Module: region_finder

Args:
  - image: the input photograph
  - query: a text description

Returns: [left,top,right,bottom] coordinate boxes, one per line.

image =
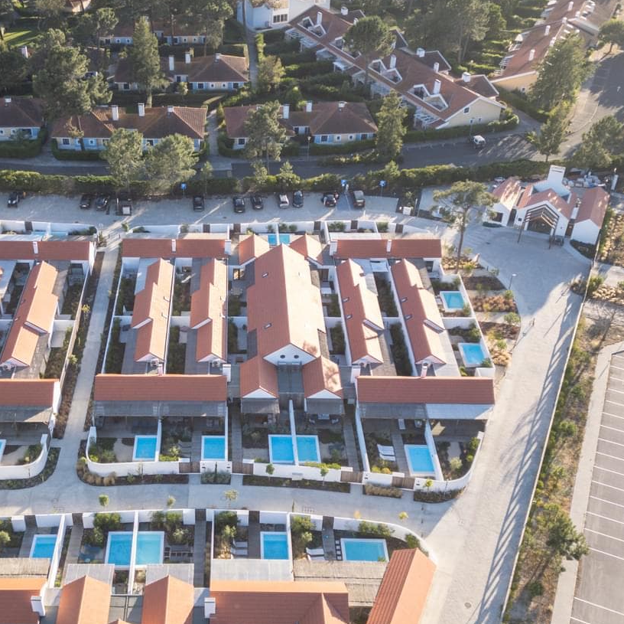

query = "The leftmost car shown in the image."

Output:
[4,190,24,207]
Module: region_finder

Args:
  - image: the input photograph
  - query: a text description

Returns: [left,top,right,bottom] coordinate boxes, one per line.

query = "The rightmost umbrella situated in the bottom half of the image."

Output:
[428,423,448,442]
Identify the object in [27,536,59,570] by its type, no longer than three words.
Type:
swimming pool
